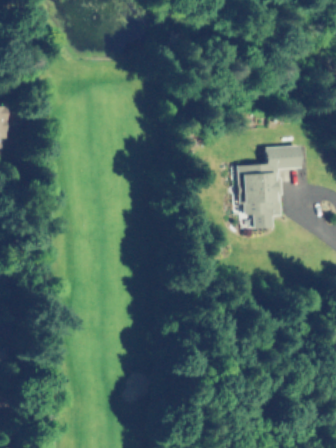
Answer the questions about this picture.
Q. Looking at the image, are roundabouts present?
No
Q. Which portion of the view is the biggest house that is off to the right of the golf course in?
right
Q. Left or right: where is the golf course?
left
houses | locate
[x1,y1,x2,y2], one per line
[237,145,304,230]
[0,106,9,153]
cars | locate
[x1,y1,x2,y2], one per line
[314,202,322,217]
[291,170,298,184]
